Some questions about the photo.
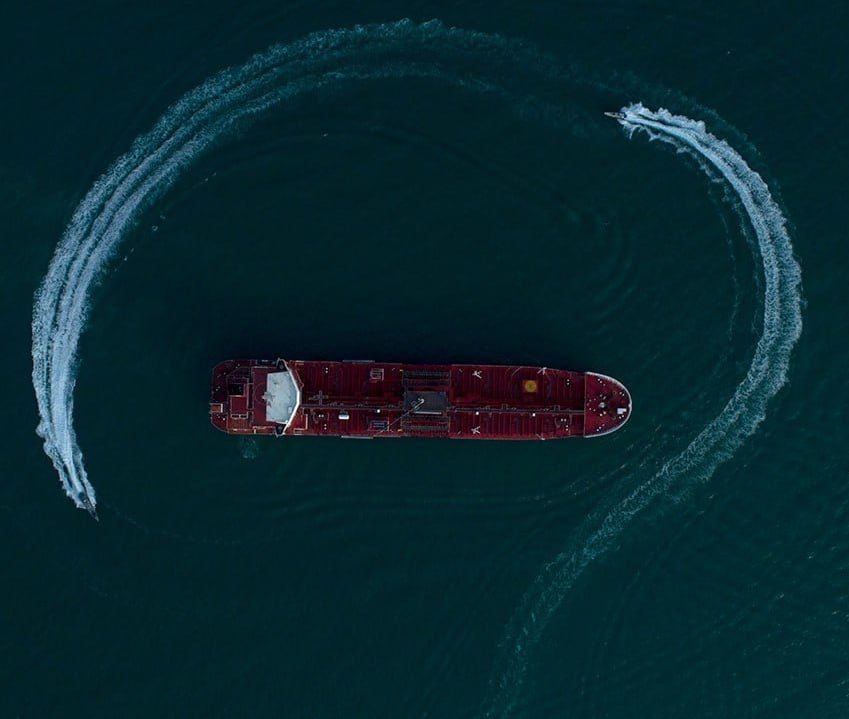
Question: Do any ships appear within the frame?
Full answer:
Yes, the frame does contain a ship.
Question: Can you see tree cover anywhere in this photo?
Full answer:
No, there is no tree cover in the image.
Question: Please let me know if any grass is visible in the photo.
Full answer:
No, grass can't be seen anywhere here.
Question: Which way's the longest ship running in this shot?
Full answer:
In this picture, the longest ship is oriented horizontally.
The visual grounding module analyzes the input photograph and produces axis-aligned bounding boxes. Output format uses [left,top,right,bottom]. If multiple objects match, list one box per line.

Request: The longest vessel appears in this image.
[210,359,633,440]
